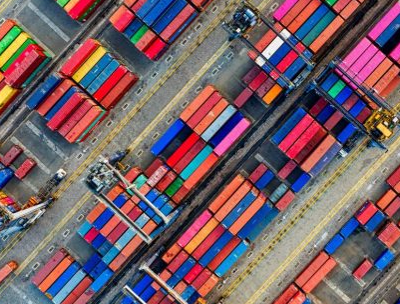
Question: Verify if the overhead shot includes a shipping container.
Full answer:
Yes, there is a shipping container in the image.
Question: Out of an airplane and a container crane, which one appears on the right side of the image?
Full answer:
The feature located on the right side of the image is a container crane.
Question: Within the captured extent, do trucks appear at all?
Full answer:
Yes, the photo shows a truck.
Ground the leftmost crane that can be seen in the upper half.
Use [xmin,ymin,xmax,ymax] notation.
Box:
[221,0,320,94]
